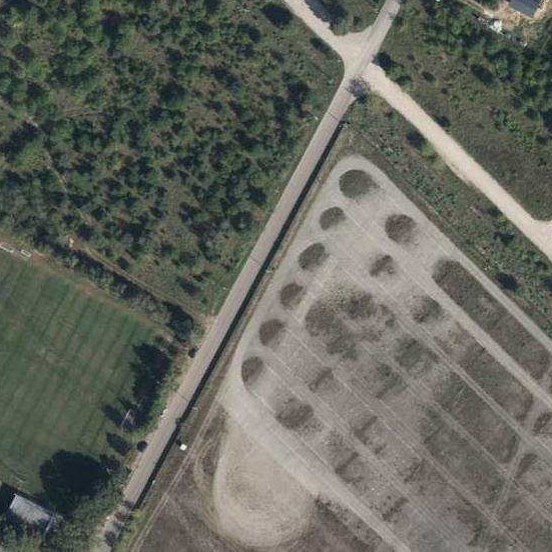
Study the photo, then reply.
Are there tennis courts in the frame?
No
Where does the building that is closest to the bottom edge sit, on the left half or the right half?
left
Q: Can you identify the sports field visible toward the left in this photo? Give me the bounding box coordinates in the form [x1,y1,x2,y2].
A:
[0,239,164,508]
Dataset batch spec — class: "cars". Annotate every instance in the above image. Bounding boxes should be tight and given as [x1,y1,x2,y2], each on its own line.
[139,441,147,451]
[188,346,197,357]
